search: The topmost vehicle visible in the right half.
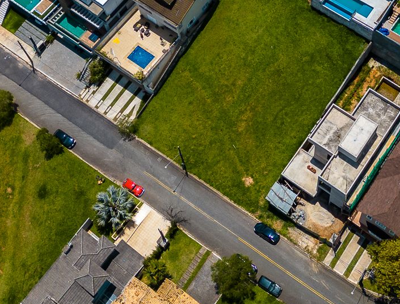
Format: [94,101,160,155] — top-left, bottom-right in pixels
[250,218,283,244]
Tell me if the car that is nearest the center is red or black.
red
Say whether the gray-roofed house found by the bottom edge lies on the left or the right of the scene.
left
